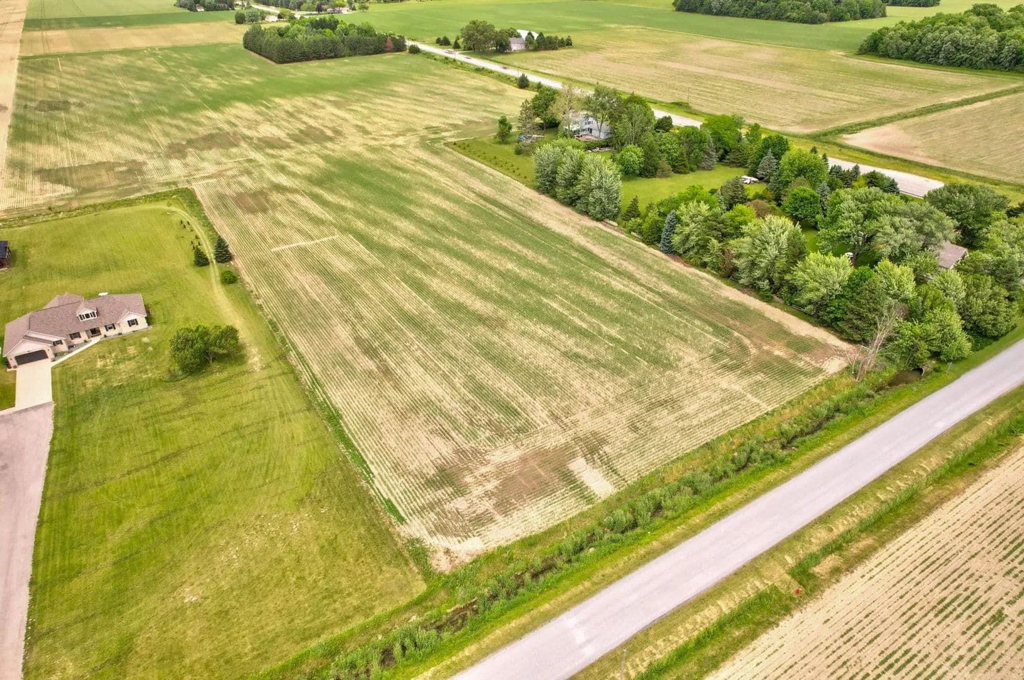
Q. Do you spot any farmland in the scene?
Yes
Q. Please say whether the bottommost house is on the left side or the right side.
left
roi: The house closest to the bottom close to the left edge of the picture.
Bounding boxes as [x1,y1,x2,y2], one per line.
[0,285,151,371]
